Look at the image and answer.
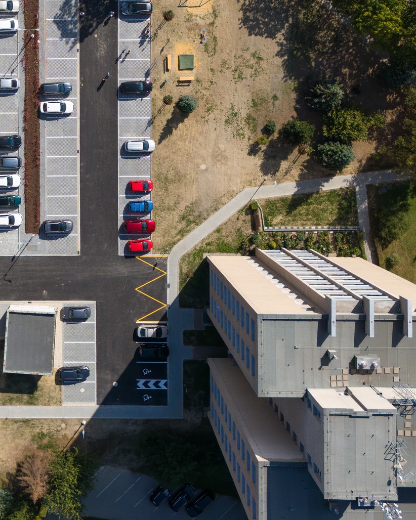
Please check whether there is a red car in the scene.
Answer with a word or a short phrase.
Yes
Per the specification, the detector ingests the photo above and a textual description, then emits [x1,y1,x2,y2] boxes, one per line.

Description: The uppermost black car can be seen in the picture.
[120,1,154,16]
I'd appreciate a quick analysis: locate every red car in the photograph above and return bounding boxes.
[123,218,157,236]
[128,178,154,194]
[128,237,155,254]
